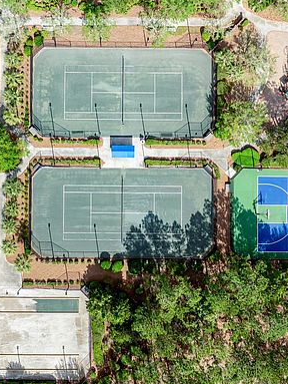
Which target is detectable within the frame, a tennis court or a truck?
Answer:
tennis court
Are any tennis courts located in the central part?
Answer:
Yes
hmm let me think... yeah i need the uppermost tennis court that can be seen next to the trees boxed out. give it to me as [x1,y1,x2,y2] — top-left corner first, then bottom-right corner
[31,47,214,136]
